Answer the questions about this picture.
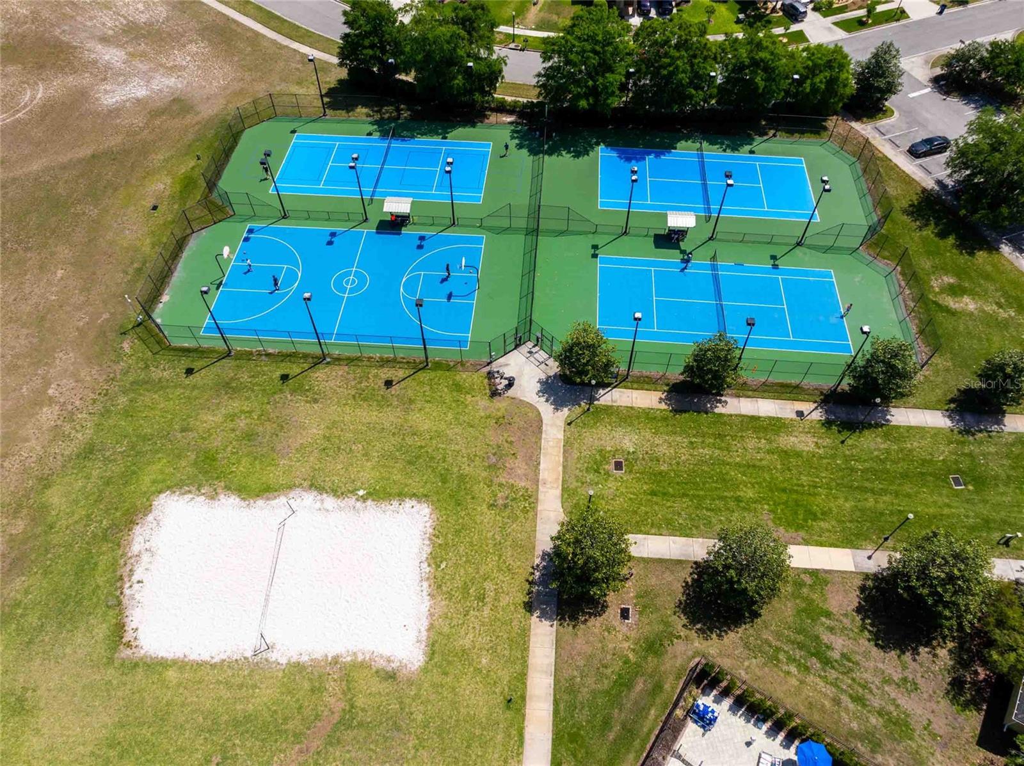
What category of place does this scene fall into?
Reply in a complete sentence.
The picture captures a sports ground.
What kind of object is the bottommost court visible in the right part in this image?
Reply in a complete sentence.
I'd identify the bottommost court visible in the right part as a tennis court.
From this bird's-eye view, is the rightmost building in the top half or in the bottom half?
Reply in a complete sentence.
You can find the rightmost building in the bottom half.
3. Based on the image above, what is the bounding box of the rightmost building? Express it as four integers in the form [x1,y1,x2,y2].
[993,665,1024,739]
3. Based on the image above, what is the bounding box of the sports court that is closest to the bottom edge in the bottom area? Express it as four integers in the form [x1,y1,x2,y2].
[119,488,432,676]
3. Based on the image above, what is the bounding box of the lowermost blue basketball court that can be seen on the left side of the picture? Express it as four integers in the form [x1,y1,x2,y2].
[151,213,539,362]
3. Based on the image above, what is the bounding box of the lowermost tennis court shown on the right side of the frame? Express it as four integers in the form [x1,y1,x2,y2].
[530,230,924,387]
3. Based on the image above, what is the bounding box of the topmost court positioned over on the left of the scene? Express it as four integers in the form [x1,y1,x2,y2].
[212,116,546,230]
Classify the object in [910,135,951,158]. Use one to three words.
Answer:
car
